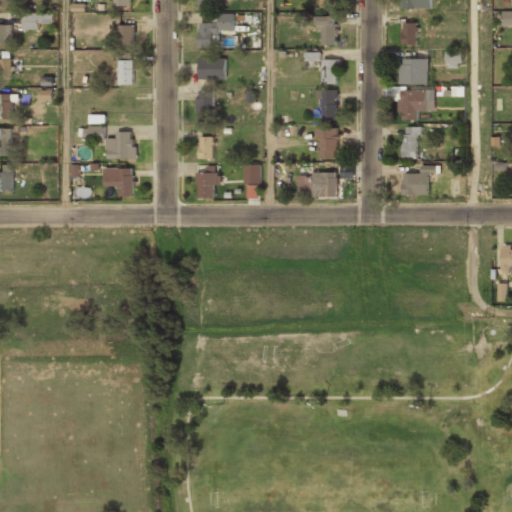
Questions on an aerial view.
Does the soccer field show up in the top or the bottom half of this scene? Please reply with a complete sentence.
Seen from above, the soccer field lies in the bottom half of the view.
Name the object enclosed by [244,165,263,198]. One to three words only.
building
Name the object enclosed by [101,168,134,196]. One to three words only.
house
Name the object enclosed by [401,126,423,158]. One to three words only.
house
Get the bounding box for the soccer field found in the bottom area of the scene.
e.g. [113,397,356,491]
[214,428,434,512]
